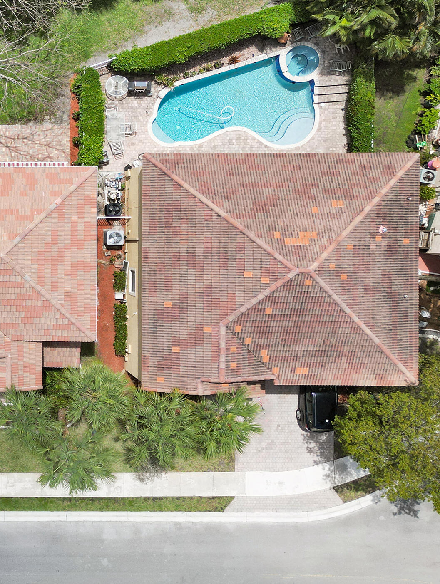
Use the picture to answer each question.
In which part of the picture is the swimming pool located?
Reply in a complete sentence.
The swimming pool sits in the top section of the image.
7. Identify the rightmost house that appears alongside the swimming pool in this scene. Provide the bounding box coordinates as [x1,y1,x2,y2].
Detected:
[125,151,421,396]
